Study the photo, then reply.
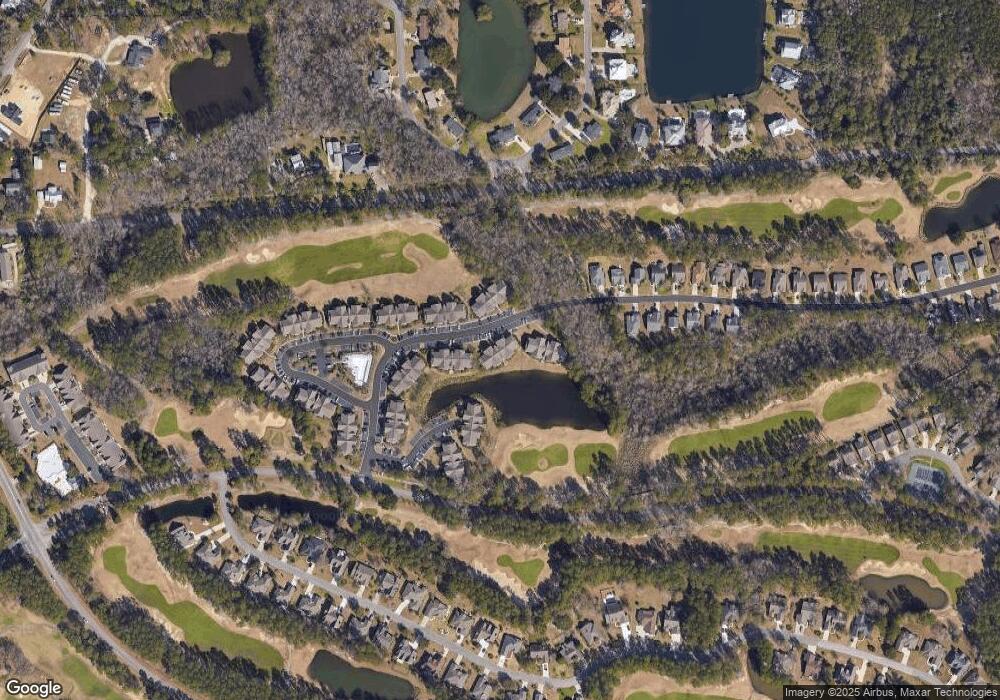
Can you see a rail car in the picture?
No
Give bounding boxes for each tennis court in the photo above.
[906,461,946,498]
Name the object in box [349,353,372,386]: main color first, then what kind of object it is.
white swimming pool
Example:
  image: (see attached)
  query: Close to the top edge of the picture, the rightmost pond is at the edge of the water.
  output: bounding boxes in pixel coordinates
[455,0,532,118]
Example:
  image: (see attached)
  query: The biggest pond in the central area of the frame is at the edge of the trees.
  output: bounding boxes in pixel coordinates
[427,371,608,430]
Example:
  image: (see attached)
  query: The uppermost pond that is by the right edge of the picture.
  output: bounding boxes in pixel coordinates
[924,176,1000,239]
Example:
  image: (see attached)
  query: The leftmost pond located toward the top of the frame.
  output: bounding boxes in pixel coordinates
[169,32,266,133]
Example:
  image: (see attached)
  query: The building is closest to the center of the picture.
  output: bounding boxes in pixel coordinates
[477,335,519,364]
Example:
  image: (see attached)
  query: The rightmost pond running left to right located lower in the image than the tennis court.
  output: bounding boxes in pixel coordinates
[860,575,949,610]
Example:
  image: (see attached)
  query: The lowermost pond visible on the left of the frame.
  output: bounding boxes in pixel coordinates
[310,650,416,700]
